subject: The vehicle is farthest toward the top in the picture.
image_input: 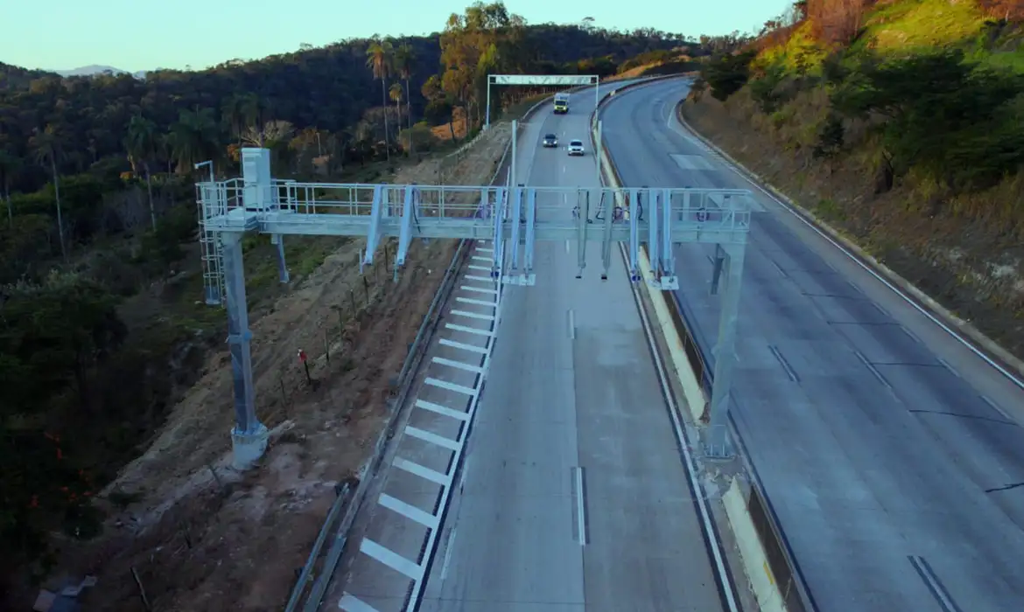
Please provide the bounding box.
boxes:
[554,91,571,112]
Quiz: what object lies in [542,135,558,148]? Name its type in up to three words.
vehicle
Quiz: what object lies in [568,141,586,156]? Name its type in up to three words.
car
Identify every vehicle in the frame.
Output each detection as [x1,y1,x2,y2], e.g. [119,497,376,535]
[554,91,571,112]
[542,135,558,148]
[568,141,586,156]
